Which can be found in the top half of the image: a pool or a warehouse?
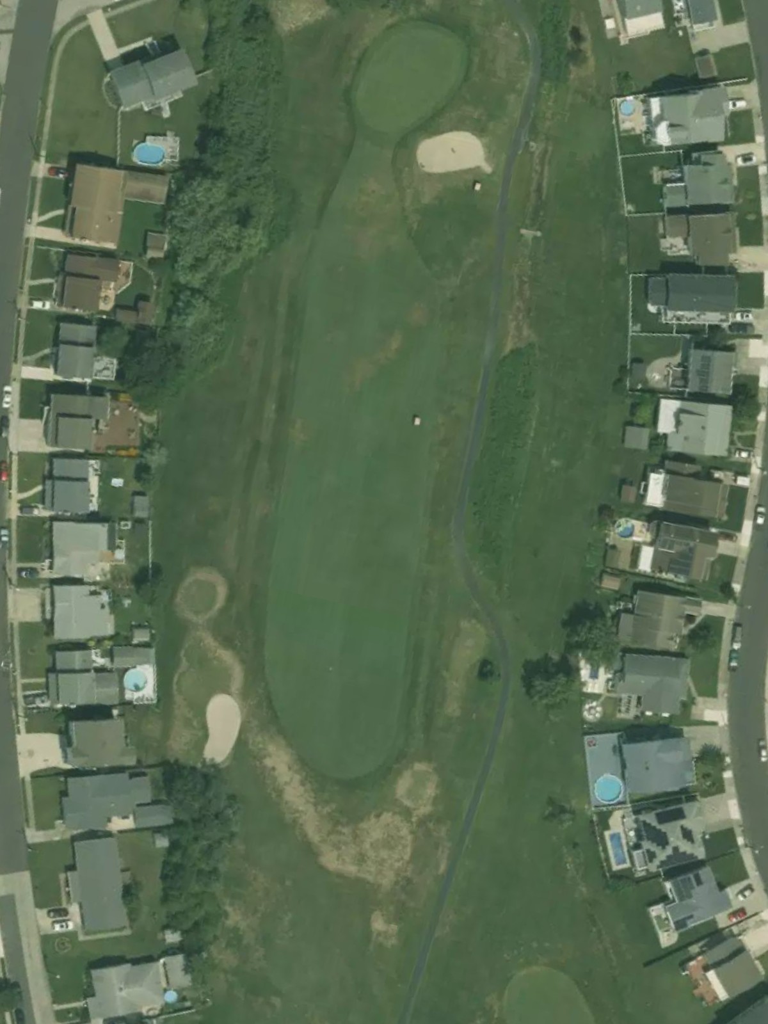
pool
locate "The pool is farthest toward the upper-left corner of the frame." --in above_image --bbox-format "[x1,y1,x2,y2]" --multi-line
[134,142,165,165]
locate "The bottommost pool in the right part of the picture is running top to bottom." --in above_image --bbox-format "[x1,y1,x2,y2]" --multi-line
[605,829,631,871]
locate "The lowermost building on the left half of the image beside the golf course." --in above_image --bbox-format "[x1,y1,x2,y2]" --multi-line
[89,954,191,1019]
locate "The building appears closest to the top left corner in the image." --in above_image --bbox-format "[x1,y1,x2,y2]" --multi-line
[110,49,198,110]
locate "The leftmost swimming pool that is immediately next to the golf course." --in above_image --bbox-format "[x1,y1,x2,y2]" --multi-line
[123,669,147,692]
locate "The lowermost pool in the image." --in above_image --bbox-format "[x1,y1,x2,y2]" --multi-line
[164,990,178,1004]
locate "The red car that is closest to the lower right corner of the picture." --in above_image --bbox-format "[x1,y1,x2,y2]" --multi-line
[727,908,748,922]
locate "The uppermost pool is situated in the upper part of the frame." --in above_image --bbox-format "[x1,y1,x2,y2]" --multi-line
[619,100,634,116]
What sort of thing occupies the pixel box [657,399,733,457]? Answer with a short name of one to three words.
house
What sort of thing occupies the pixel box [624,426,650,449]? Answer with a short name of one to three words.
shed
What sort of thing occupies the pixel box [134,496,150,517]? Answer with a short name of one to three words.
shed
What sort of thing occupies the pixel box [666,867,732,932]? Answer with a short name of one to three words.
house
